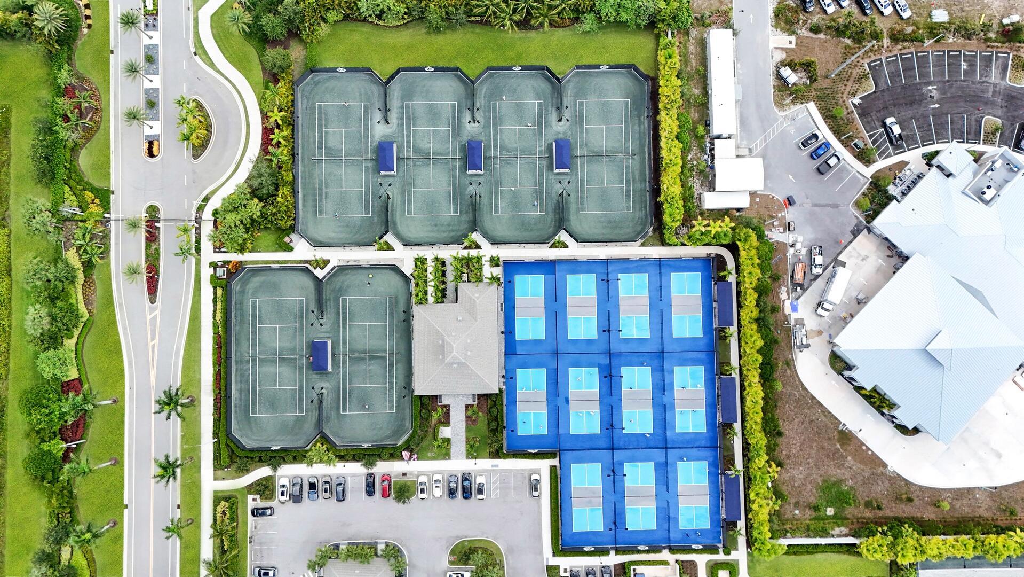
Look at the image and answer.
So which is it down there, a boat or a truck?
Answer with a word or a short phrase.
truck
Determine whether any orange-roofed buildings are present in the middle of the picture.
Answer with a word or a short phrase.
No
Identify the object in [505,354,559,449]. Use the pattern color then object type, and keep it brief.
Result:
blue sports court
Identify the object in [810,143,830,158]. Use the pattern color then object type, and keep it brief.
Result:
blue car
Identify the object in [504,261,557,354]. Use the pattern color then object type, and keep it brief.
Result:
blue sports court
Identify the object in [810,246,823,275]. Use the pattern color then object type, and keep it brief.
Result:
white vehicle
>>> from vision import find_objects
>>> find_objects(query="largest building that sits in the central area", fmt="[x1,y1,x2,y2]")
[414,282,499,395]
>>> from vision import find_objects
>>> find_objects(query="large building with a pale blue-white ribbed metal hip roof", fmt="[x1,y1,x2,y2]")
[833,141,1024,444]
